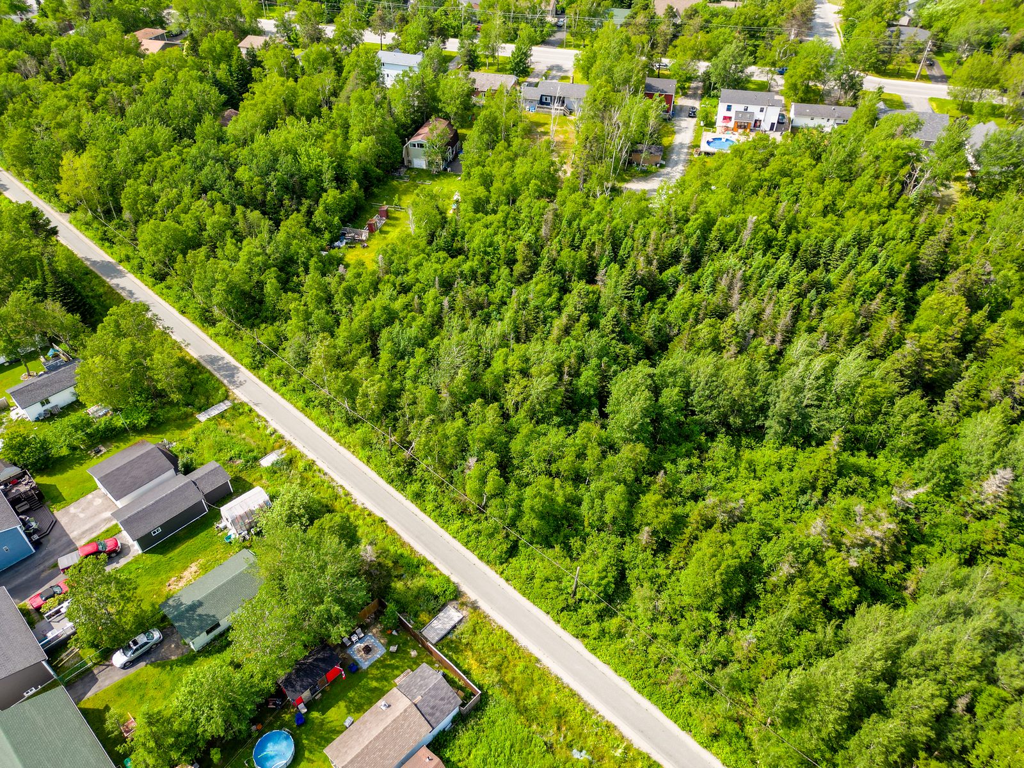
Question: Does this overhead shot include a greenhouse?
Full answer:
Yes, this view includes a greenhouse.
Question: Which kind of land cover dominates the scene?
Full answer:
The scene is dominated by trees.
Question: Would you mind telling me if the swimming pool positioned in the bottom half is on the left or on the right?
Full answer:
The swimming pool positioned in the bottom half is on the left side of the image.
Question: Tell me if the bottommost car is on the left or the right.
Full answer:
The bottommost car is on the left side of the image.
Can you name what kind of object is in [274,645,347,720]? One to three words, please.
shed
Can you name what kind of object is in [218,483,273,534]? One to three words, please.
greenhouse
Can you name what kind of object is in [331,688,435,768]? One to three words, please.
shed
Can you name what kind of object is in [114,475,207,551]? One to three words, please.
building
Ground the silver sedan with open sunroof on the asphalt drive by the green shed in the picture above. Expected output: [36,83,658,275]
[112,627,167,667]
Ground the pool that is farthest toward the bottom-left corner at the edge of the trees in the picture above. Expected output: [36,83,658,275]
[252,728,297,768]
